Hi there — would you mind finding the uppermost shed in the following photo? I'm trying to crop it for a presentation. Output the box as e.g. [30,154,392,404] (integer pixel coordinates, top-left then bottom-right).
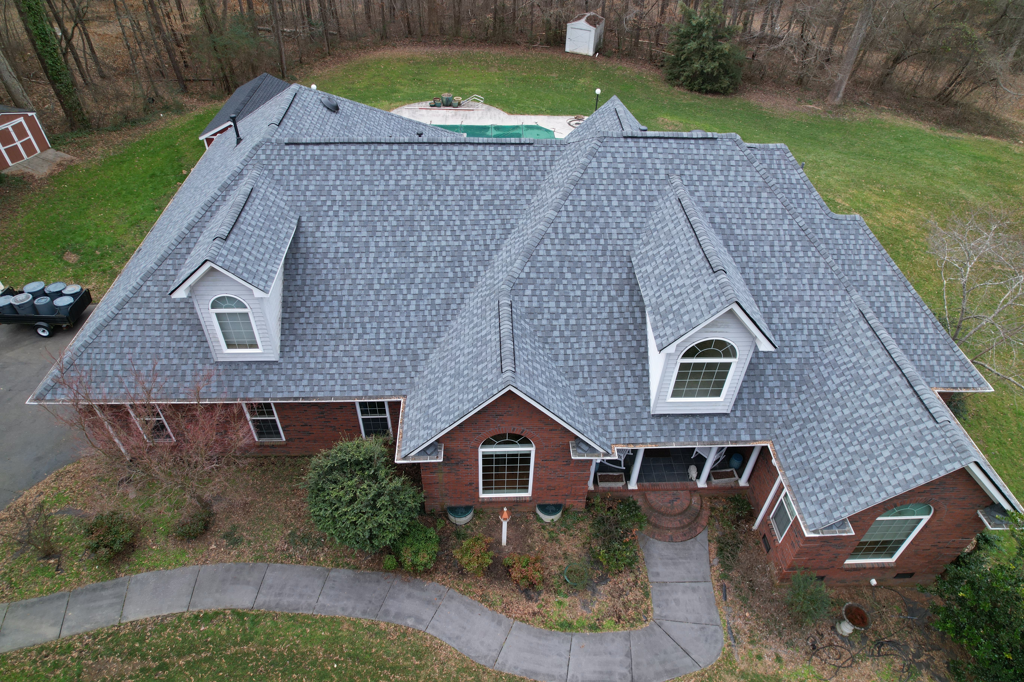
[565,11,607,56]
